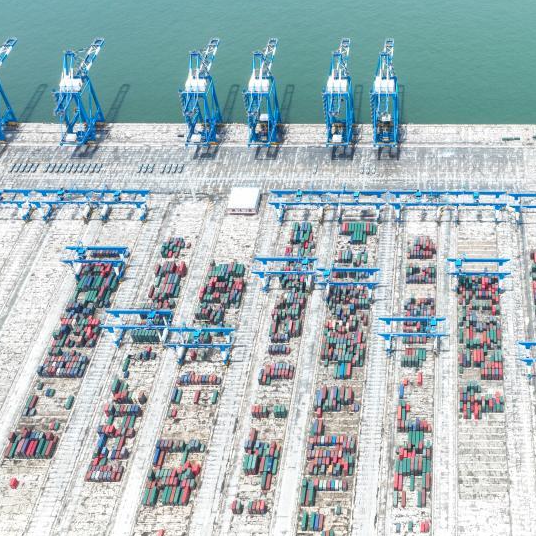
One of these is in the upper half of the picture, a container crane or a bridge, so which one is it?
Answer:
container crane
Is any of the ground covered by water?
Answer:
Yes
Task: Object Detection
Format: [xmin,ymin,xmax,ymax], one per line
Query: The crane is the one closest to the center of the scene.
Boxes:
[254,254,322,295]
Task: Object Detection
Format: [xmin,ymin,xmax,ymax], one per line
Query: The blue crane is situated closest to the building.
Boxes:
[271,188,333,224]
